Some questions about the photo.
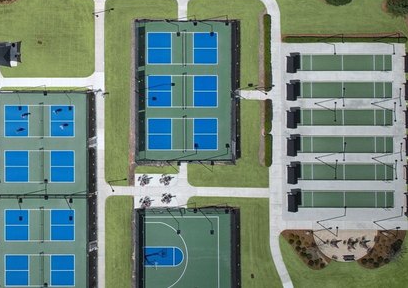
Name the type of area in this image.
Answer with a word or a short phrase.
sports ground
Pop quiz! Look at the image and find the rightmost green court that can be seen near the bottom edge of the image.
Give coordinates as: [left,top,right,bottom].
[134,208,233,288]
